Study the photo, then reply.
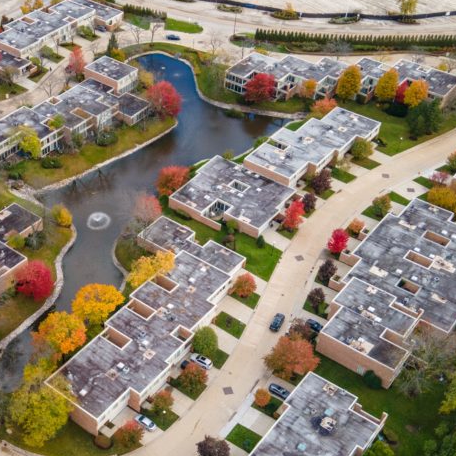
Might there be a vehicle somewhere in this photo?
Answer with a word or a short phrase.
Yes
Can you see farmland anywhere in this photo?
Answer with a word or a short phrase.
No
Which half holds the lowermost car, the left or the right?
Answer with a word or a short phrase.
left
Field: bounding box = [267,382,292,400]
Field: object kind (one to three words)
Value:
car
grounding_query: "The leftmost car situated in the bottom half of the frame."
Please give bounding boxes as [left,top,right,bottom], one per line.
[133,413,158,433]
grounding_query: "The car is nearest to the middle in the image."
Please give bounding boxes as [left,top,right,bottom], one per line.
[271,312,284,331]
